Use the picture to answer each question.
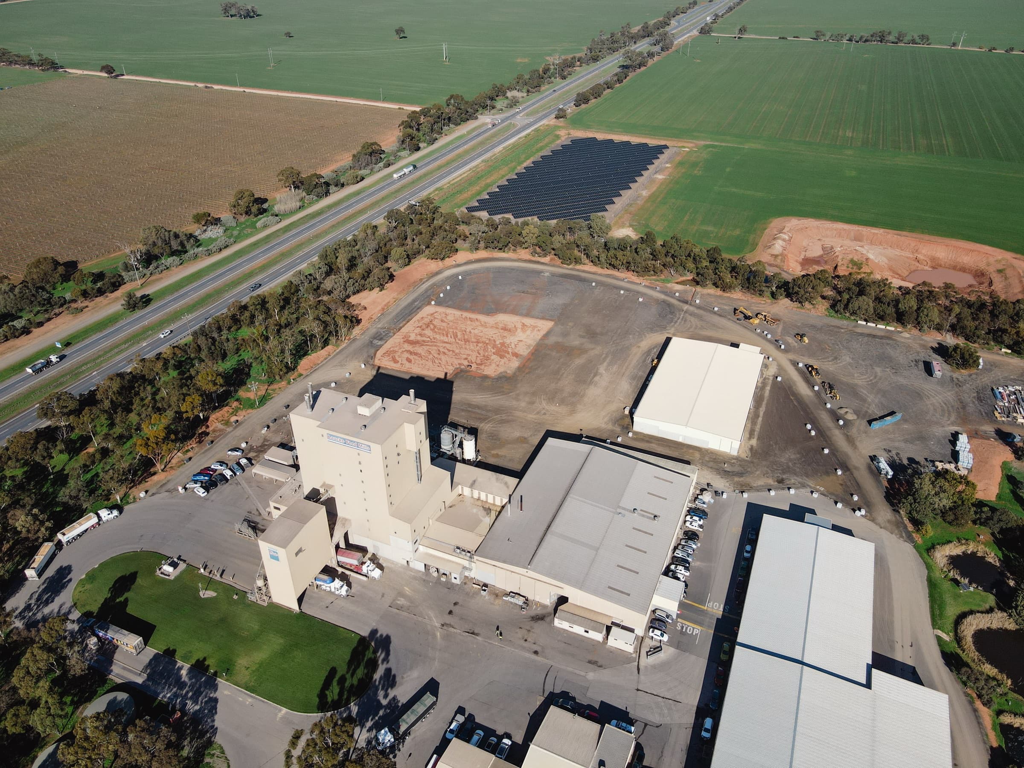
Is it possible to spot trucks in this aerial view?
Yes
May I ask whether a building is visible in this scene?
Yes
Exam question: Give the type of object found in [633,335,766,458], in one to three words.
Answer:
shed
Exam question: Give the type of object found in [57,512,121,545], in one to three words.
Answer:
truck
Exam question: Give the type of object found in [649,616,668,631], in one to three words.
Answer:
car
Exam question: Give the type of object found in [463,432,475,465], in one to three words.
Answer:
silo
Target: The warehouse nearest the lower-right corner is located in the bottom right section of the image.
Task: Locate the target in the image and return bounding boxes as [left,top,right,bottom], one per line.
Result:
[708,513,954,768]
